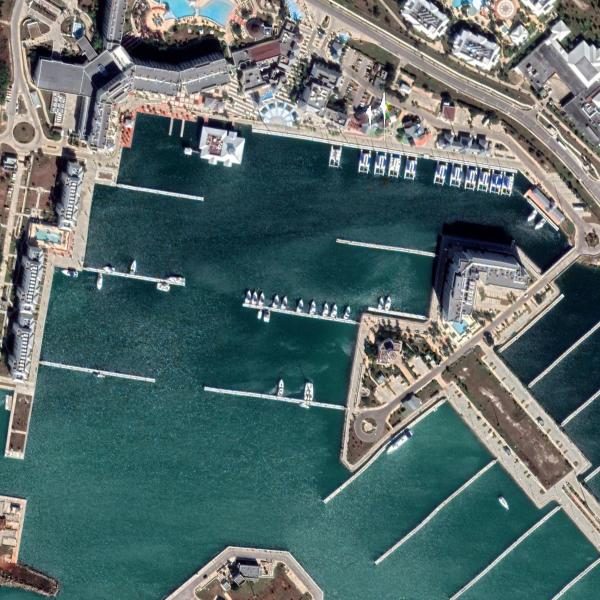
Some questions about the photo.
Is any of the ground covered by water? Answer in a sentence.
Yes, some water is visible.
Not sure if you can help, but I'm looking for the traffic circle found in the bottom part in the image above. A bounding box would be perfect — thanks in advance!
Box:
[353,411,384,442]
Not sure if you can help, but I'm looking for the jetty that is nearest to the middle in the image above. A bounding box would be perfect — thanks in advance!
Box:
[241,302,359,324]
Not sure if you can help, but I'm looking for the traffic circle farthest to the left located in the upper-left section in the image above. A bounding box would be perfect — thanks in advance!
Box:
[5,113,43,151]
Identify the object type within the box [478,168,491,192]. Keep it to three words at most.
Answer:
boat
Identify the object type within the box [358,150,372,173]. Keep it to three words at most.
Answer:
boat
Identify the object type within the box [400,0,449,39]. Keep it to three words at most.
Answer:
house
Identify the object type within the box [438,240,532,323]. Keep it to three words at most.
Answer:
building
